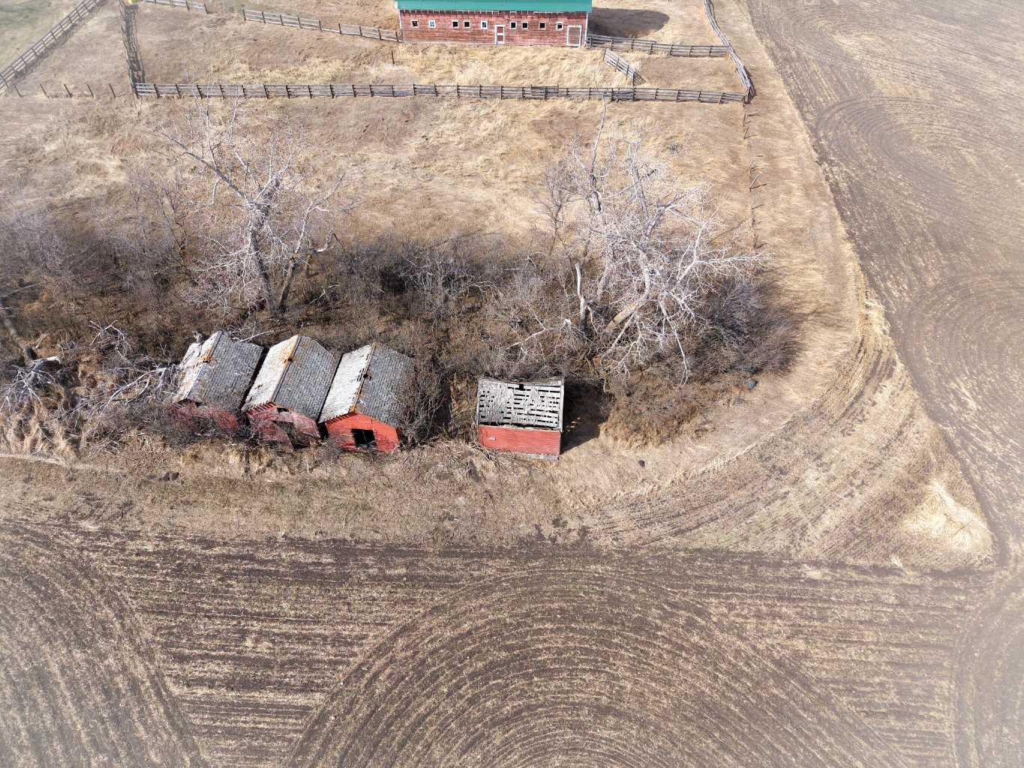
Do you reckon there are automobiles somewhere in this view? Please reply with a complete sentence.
No, there's no automobile here.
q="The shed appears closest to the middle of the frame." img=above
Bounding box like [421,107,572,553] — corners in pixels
[474,369,564,455]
